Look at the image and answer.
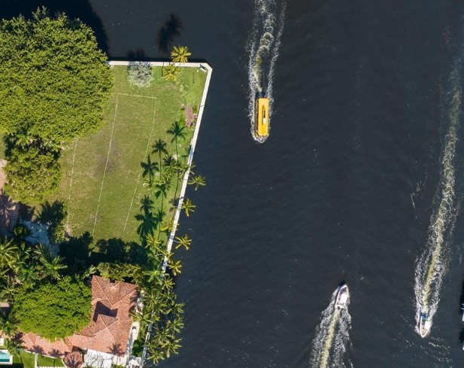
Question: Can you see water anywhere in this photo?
Yes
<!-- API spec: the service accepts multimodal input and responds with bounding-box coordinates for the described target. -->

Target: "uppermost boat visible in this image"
[332,284,349,313]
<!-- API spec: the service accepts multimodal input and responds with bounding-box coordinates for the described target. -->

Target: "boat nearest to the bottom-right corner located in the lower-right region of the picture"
[418,309,431,337]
